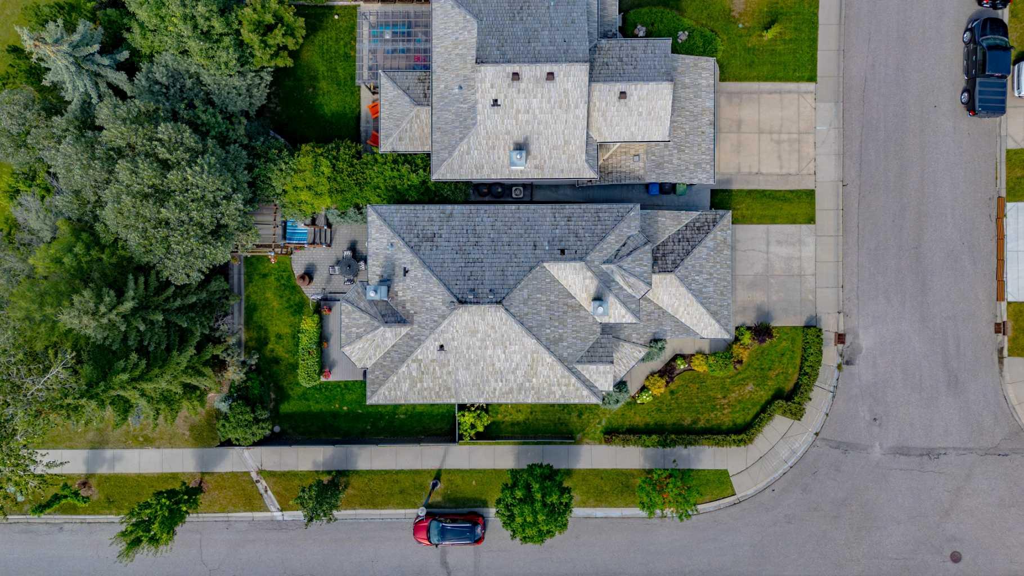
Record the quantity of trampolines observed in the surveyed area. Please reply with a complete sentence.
There are no trampolines in this view.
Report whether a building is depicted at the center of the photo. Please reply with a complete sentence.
Yes, looking at the center of the photo, one can make out a building.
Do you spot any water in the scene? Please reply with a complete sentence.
No, no water is visible.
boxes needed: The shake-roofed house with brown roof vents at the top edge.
[377,0,718,187]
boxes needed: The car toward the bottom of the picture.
[414,510,487,550]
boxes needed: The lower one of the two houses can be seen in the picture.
[338,202,734,407]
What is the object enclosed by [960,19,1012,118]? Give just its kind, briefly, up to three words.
truck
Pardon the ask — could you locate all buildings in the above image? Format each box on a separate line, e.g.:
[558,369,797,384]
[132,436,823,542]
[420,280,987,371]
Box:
[377,0,718,187]
[338,202,734,407]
